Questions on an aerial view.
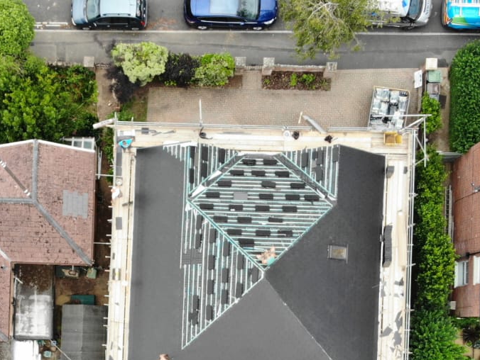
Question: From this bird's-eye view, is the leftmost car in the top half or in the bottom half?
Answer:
top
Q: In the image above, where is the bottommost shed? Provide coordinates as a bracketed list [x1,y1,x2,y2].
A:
[61,305,106,360]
